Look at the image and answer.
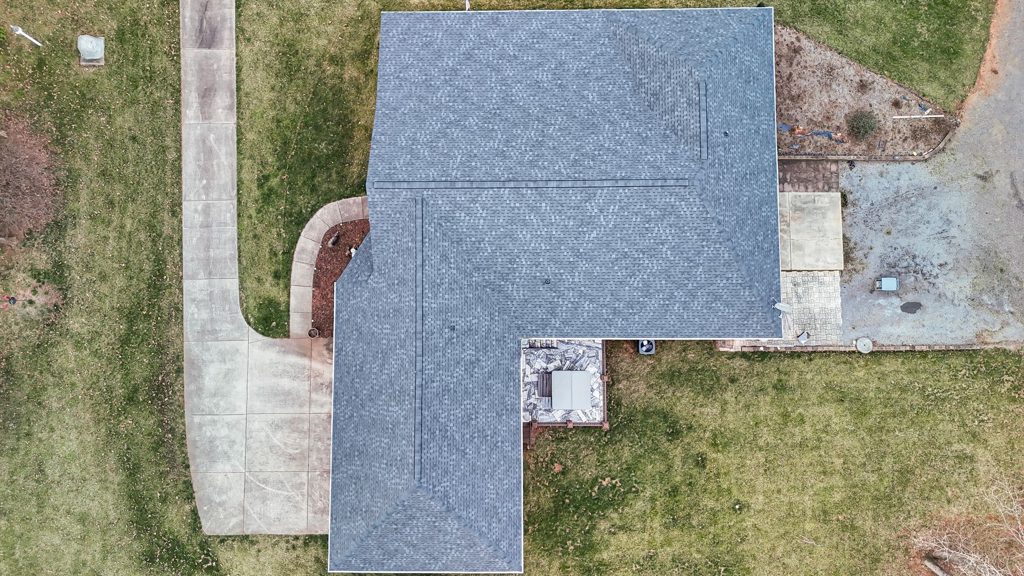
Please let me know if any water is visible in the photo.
No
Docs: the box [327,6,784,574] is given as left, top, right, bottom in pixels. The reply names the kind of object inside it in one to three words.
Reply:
house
